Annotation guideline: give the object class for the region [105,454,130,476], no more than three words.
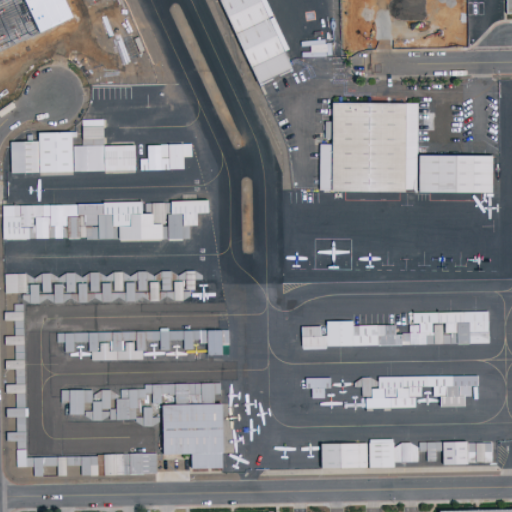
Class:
hangar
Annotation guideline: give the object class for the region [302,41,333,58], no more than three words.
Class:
building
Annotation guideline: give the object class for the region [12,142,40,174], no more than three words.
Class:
hangar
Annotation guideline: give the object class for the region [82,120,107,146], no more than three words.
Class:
building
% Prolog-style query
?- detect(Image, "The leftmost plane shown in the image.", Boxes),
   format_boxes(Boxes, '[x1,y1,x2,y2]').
[28,179,44,202]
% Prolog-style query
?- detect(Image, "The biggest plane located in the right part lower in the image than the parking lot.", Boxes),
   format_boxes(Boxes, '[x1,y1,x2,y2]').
[318,240,350,269]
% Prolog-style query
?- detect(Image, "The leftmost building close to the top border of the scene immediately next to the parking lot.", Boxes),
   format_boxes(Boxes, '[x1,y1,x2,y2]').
[220,0,292,86]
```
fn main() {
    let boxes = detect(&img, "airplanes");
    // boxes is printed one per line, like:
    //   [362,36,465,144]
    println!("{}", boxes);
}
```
[417,390,439,405]
[226,385,241,407]
[473,195,489,213]
[230,454,250,470]
[28,179,44,202]
[248,418,262,442]
[286,254,308,269]
[358,254,382,270]
[242,394,256,415]
[230,430,244,452]
[257,402,274,425]
[320,392,343,409]
[166,344,188,359]
[186,342,207,356]
[318,240,350,269]
[144,344,166,359]
[301,444,320,458]
[468,254,490,270]
[227,407,242,429]
[192,284,216,302]
[484,196,502,220]
[274,444,296,460]
[344,396,366,410]
[70,344,92,360]
[333,380,354,394]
